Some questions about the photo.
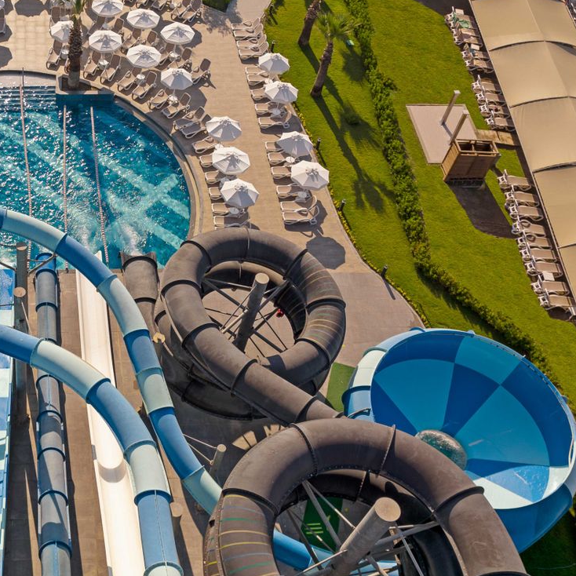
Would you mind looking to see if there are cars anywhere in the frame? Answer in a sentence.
No, the picture doesn't show any car.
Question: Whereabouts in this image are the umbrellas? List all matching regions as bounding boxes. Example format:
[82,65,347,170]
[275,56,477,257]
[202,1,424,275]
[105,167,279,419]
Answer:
[126,47,162,80]
[47,23,71,52]
[158,67,194,100]
[88,34,122,66]
[263,82,300,115]
[206,116,243,150]
[256,52,292,85]
[220,181,260,215]
[92,0,124,26]
[160,26,194,56]
[125,11,159,41]
[276,131,312,165]
[290,164,330,198]
[212,147,251,182]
